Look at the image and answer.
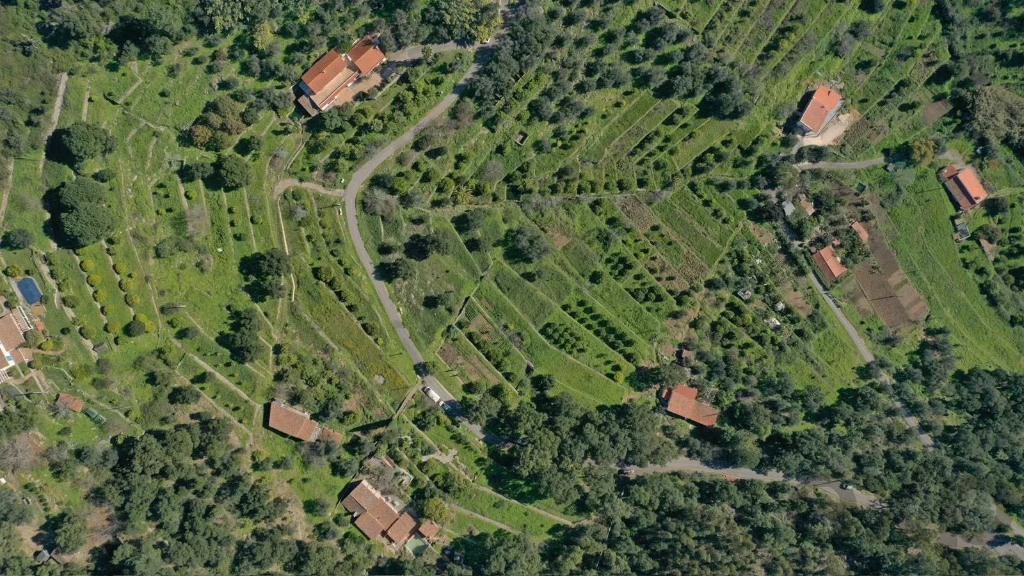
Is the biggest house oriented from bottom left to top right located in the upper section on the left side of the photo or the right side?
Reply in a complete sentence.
You can find the biggest house oriented from bottom left to top right located in the upper section on the left side of the picture.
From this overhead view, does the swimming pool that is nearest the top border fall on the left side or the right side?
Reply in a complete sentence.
It is on the left.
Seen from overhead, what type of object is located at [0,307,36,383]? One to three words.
house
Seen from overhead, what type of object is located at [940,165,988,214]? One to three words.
house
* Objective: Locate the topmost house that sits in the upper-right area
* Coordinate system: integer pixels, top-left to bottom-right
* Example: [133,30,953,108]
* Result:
[796,85,846,137]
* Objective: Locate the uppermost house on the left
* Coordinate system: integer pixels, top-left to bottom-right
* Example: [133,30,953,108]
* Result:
[298,34,387,117]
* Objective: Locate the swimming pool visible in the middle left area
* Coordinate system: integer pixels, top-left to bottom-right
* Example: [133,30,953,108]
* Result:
[13,274,44,308]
